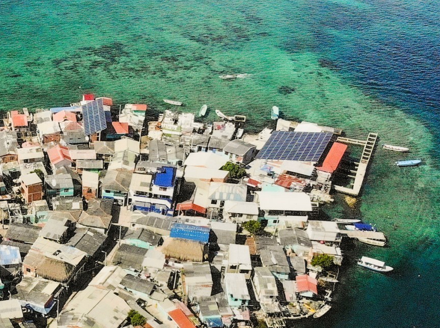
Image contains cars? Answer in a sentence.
No, there isn't any car down there.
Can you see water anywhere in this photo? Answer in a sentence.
Yes, there is water in the image.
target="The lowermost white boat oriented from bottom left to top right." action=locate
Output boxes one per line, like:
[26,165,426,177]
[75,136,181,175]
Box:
[313,303,335,318]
